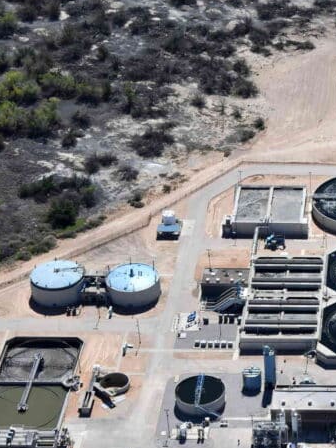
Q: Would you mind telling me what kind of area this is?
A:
industrial area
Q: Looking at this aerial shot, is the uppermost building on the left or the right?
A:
right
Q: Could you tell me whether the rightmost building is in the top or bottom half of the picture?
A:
bottom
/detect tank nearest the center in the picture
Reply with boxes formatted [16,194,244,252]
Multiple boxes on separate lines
[105,260,162,313]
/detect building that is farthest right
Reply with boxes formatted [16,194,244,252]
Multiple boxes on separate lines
[270,384,336,429]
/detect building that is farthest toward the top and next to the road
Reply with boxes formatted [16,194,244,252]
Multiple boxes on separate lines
[200,266,252,308]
